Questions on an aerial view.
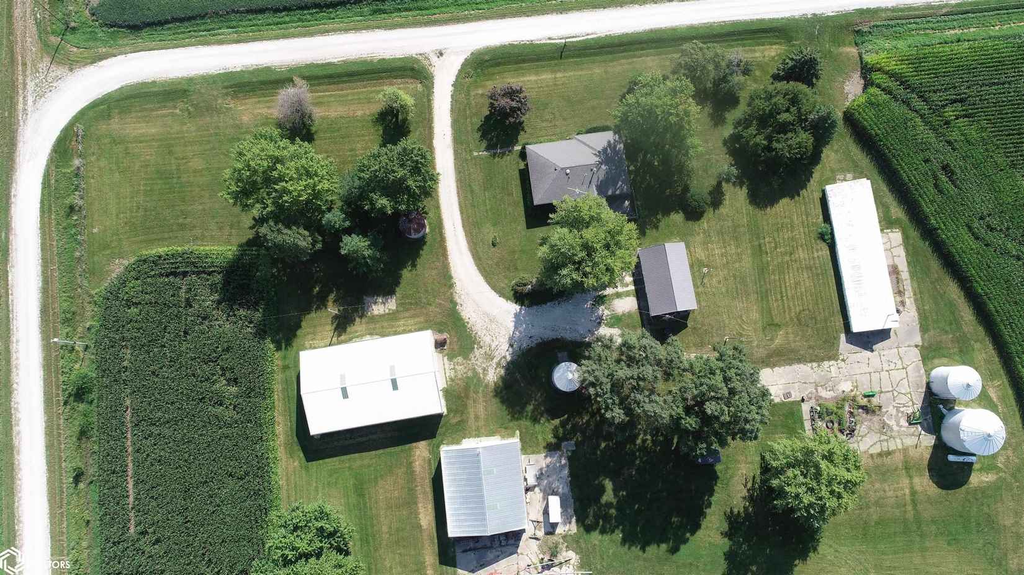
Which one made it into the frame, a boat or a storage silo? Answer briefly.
storage silo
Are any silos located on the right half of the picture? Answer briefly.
Yes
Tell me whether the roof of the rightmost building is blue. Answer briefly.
No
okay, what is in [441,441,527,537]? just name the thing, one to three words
shed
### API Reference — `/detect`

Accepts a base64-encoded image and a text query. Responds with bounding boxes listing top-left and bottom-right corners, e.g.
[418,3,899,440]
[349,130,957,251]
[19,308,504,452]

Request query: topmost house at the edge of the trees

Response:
[525,130,634,206]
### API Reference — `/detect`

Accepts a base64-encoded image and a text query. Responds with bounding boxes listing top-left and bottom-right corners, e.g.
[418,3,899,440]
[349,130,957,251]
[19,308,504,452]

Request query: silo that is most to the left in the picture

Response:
[399,211,429,241]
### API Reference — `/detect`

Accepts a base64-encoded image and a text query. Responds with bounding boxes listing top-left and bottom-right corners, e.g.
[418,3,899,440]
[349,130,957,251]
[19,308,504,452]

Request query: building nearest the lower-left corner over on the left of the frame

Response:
[299,330,443,436]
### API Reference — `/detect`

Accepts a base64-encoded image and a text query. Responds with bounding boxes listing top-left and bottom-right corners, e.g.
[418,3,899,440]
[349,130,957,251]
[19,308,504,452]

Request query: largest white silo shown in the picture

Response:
[940,407,1006,456]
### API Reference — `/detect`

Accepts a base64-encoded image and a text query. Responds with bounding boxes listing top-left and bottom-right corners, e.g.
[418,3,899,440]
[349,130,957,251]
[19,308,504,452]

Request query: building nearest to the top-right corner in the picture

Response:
[820,179,902,333]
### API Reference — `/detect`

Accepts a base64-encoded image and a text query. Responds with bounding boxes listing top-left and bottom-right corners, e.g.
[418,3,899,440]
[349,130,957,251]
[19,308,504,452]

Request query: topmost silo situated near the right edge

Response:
[929,366,982,400]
